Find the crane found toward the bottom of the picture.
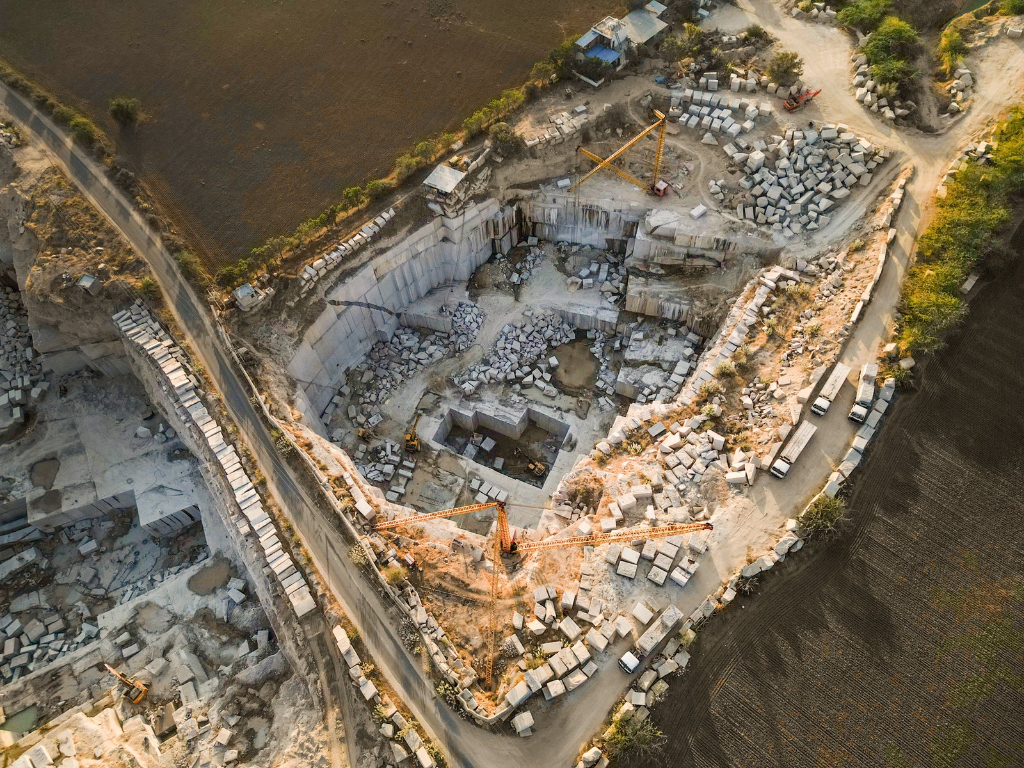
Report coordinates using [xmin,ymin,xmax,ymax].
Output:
[372,500,716,694]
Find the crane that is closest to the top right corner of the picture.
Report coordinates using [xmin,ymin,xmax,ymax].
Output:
[566,108,670,194]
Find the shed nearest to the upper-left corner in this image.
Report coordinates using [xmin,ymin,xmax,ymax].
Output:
[77,274,102,298]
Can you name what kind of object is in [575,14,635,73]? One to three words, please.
house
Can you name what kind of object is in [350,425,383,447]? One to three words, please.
work vehicle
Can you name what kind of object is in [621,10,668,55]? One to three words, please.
shed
